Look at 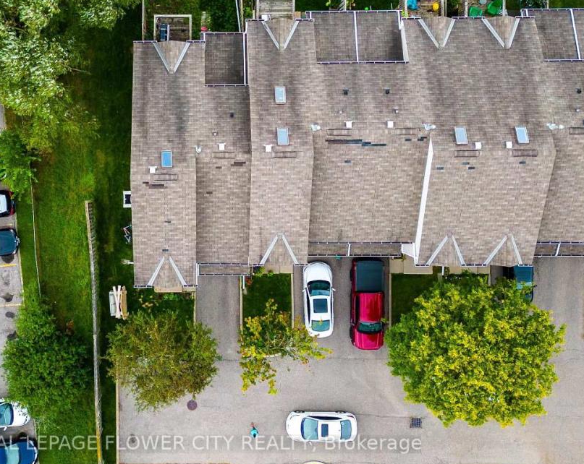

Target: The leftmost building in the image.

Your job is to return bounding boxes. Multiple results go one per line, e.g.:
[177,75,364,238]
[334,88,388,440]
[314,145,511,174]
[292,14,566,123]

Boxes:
[123,29,254,292]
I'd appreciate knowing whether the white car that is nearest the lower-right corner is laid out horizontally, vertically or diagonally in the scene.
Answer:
horizontally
